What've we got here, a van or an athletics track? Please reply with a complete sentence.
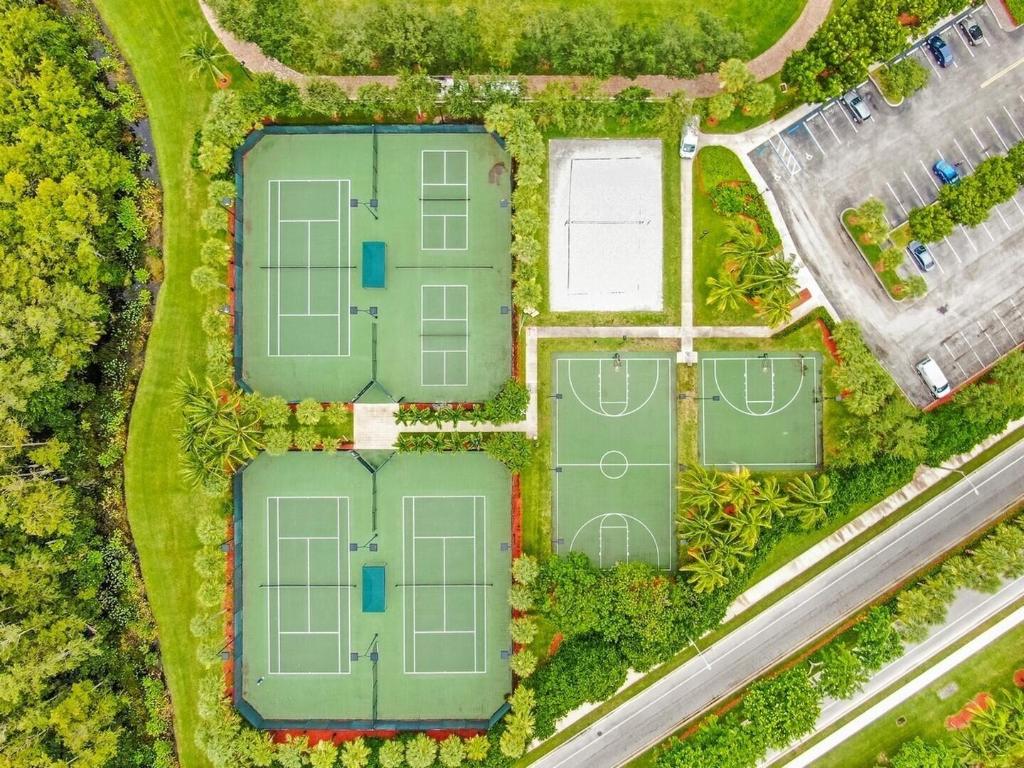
Looking from above, you can make out a van.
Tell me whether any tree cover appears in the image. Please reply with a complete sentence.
Yes, the picture does contain tree cover.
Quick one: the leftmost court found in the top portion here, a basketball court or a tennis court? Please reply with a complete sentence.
It looks like the leftmost court found in the top portion is a tennis court.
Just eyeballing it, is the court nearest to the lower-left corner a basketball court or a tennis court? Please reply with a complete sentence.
What you see as the court nearest to the lower-left corner is a tennis court.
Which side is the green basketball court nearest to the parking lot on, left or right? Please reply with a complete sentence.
The green basketball court nearest to the parking lot sits on the right side.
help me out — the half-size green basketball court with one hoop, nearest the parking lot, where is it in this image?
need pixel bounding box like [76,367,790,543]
[699,352,823,470]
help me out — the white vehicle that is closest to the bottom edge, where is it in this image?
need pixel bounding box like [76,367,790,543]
[915,357,948,395]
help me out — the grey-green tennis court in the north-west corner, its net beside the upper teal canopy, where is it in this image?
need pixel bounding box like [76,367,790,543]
[259,180,355,356]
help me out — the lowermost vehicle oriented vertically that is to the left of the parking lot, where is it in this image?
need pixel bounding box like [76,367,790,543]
[680,119,698,157]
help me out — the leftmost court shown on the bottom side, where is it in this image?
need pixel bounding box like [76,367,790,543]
[259,497,355,674]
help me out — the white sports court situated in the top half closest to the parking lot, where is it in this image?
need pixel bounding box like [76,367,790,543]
[549,139,663,311]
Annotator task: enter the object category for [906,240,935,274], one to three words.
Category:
car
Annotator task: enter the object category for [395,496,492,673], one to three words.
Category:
tennis court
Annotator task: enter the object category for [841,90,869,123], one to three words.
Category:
car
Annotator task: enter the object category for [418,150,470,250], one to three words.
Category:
sports court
